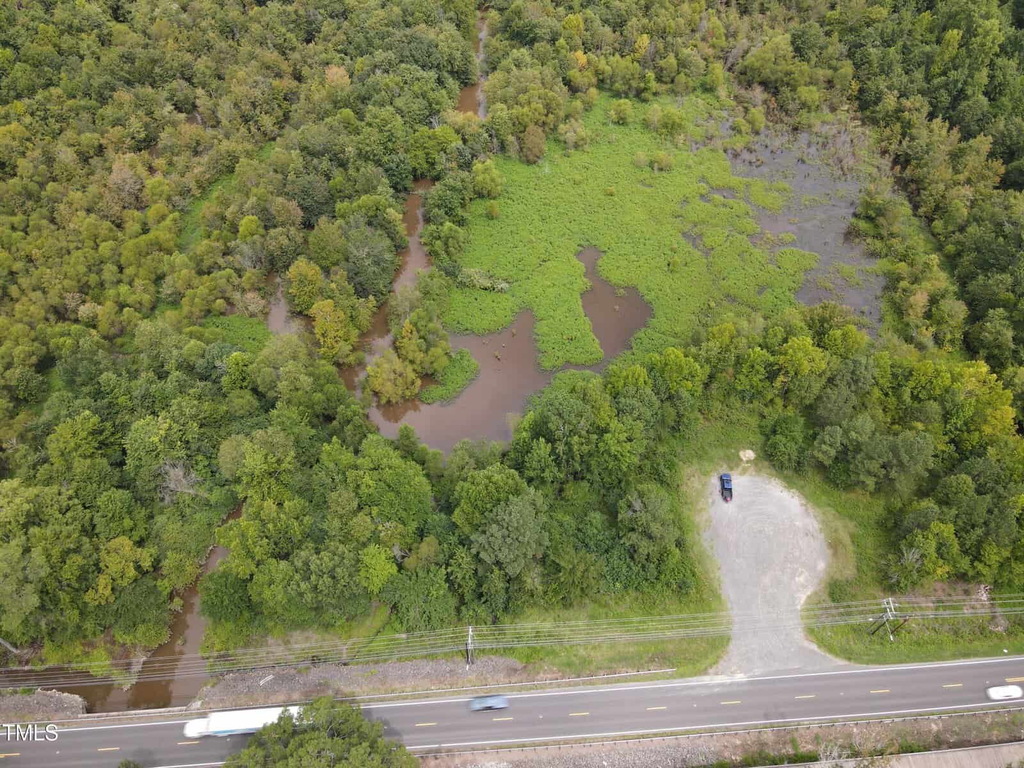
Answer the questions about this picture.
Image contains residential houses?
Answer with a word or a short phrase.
No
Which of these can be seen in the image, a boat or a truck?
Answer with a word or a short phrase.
truck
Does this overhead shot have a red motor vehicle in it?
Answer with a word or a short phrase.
No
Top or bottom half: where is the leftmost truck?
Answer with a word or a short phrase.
bottom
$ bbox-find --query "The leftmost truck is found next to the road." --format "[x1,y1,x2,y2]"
[181,705,282,737]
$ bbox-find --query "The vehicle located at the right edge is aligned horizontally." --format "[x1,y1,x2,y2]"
[987,684,1020,700]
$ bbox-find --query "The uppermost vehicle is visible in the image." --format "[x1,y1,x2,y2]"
[720,476,735,503]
